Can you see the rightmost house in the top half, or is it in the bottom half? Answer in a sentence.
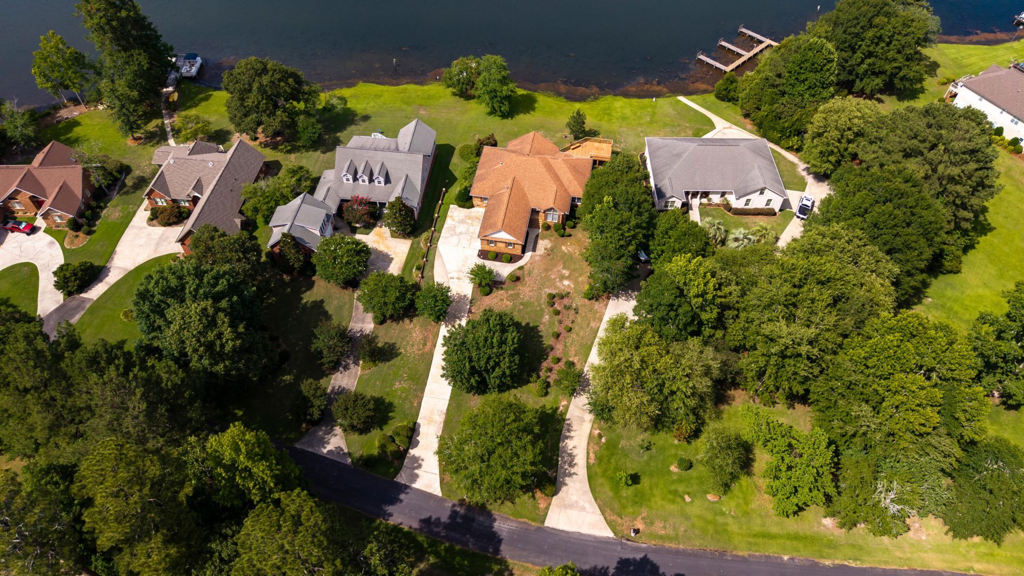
The rightmost house sits in the top half of the picture.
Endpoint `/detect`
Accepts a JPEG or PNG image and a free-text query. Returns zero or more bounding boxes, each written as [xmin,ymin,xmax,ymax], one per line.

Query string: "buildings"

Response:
[141,132,272,257]
[644,136,789,214]
[468,129,593,255]
[267,116,438,262]
[928,59,1024,158]
[0,141,111,229]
